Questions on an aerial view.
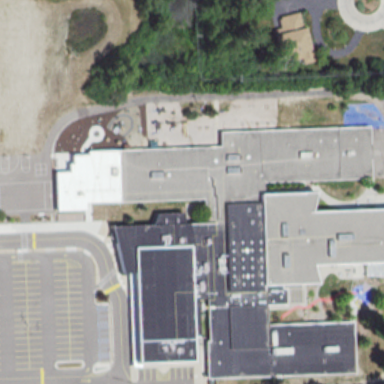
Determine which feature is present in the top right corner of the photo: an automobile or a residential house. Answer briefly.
residential house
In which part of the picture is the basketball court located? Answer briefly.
left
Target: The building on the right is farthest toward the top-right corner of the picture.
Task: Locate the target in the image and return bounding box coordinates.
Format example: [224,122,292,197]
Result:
[279,11,318,68]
